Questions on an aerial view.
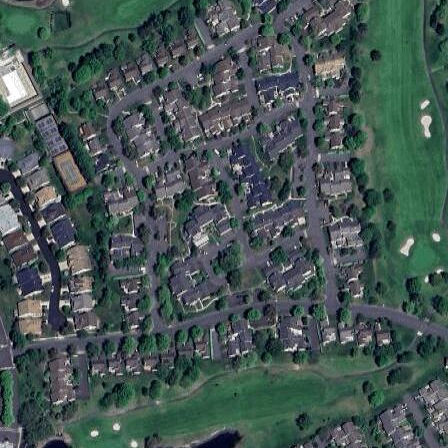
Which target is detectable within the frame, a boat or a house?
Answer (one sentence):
Visible in the photo is a house.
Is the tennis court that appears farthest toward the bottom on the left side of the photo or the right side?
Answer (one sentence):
The tennis court that appears farthest toward the bottom is on the left side of the image.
